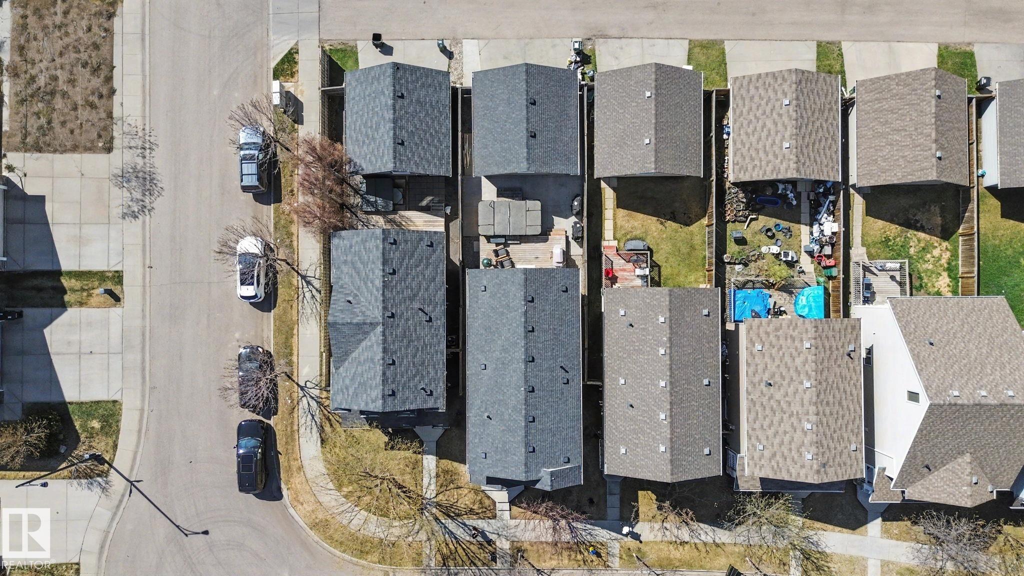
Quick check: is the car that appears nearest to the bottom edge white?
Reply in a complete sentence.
No, from above the car that appears nearest to the bottom edge looks black.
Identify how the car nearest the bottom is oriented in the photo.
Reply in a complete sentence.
The car nearest the bottom is oriented vertically.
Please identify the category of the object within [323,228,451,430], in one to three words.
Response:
house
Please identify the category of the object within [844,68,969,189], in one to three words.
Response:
building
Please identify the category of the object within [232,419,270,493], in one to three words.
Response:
car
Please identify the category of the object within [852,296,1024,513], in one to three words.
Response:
house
